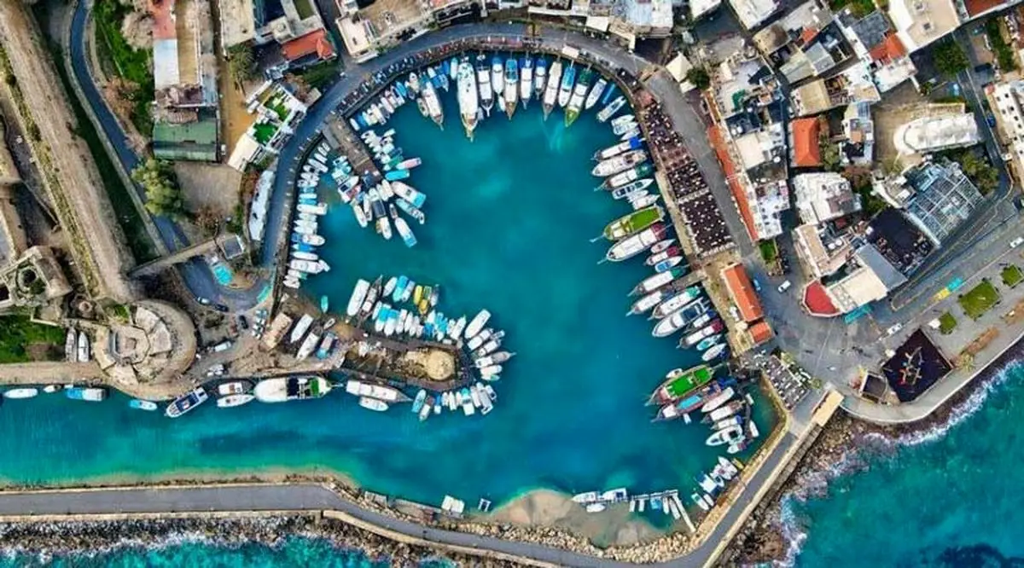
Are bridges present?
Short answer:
Yes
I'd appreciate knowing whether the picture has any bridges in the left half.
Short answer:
Yes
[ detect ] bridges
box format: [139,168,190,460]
[131,234,228,279]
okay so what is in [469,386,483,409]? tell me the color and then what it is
white boat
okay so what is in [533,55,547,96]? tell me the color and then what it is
white boat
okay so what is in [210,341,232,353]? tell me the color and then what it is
white vehicle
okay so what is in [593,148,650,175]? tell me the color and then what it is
white ship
